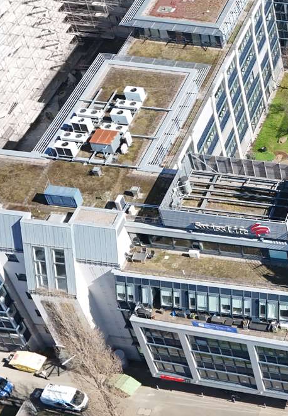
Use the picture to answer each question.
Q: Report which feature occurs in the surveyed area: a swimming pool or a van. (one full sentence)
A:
The image shows a van.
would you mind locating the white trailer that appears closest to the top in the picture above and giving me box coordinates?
[4,354,54,378]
